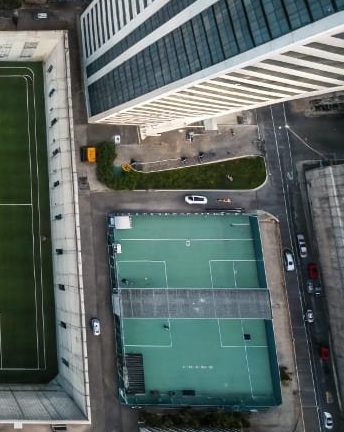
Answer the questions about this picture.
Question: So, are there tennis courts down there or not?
Yes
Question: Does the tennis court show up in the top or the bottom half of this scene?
bottom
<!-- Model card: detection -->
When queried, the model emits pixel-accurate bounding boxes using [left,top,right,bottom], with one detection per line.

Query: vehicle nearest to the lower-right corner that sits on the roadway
[322,411,335,430]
